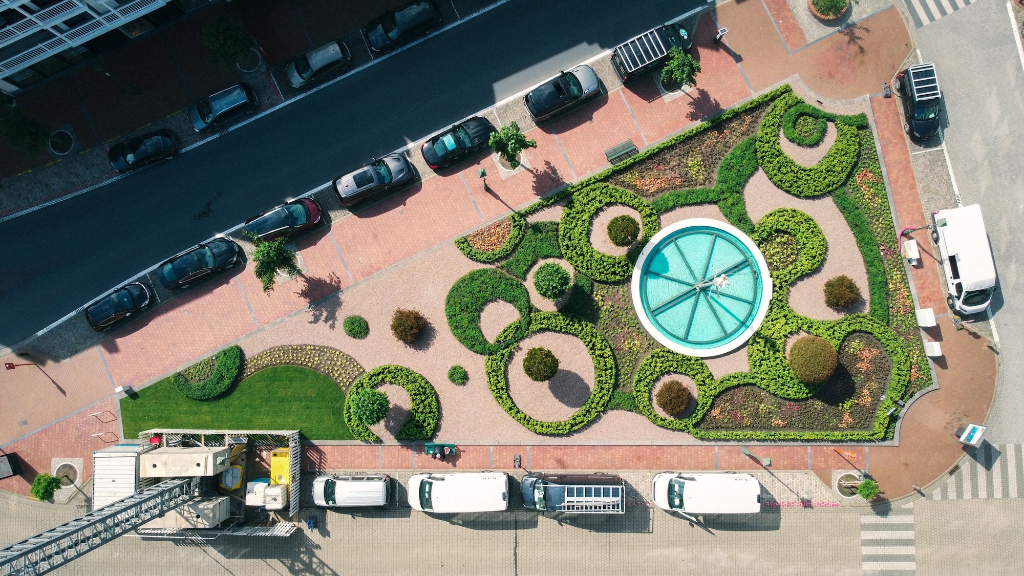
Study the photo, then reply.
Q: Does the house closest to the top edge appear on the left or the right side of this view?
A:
left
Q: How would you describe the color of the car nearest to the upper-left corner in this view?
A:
black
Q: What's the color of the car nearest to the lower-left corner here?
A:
black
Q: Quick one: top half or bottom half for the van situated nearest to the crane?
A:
bottom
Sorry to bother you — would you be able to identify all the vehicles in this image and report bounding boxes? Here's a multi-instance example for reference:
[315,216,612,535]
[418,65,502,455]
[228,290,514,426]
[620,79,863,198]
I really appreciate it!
[422,117,498,169]
[333,152,414,205]
[610,25,695,86]
[520,472,624,512]
[650,472,767,524]
[408,471,511,513]
[84,282,156,331]
[109,128,180,173]
[187,82,262,134]
[923,207,990,317]
[156,238,244,291]
[285,37,355,89]
[523,65,604,123]
[243,200,324,248]
[892,60,945,145]
[313,472,393,510]
[363,0,444,52]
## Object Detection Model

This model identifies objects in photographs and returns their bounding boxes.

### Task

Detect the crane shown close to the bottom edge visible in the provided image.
[0,476,221,576]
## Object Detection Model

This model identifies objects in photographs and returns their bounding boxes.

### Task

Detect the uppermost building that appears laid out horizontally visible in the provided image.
[0,0,197,88]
